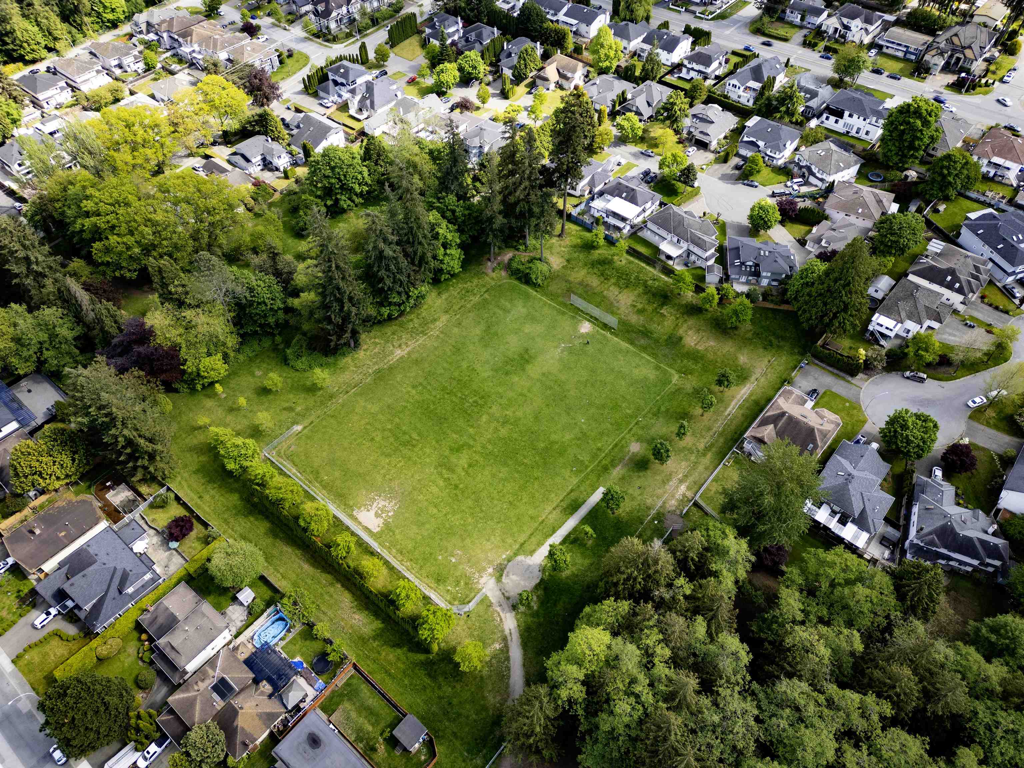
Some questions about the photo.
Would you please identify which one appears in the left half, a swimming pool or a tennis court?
swimming pool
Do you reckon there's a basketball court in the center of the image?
No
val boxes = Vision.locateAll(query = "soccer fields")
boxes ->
[277,280,677,604]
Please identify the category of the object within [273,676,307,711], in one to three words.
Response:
gazebo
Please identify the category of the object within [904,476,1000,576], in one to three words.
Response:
house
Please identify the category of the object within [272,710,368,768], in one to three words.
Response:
house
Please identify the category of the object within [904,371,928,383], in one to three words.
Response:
vehicle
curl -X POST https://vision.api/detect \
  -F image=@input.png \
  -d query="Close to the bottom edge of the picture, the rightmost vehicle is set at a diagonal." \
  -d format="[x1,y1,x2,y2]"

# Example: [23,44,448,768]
[137,734,173,768]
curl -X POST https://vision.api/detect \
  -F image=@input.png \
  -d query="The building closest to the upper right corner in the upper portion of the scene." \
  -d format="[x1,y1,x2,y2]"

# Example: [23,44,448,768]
[971,2,1008,28]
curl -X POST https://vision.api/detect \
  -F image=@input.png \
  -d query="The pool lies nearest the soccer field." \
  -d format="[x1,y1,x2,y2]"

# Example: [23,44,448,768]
[252,610,290,648]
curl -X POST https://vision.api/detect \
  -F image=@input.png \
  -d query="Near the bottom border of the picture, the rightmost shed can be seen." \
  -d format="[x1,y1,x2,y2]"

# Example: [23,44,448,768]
[392,714,427,753]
